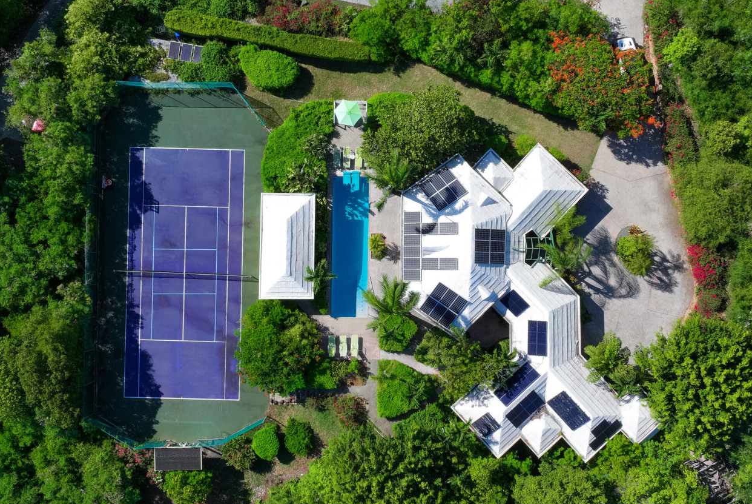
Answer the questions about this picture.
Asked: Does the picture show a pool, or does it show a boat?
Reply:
pool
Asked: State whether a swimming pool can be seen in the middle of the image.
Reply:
Yes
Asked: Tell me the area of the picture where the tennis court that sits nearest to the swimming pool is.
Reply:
left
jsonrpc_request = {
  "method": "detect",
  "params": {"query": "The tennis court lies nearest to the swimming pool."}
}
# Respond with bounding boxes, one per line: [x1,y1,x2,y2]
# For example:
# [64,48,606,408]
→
[97,90,273,443]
